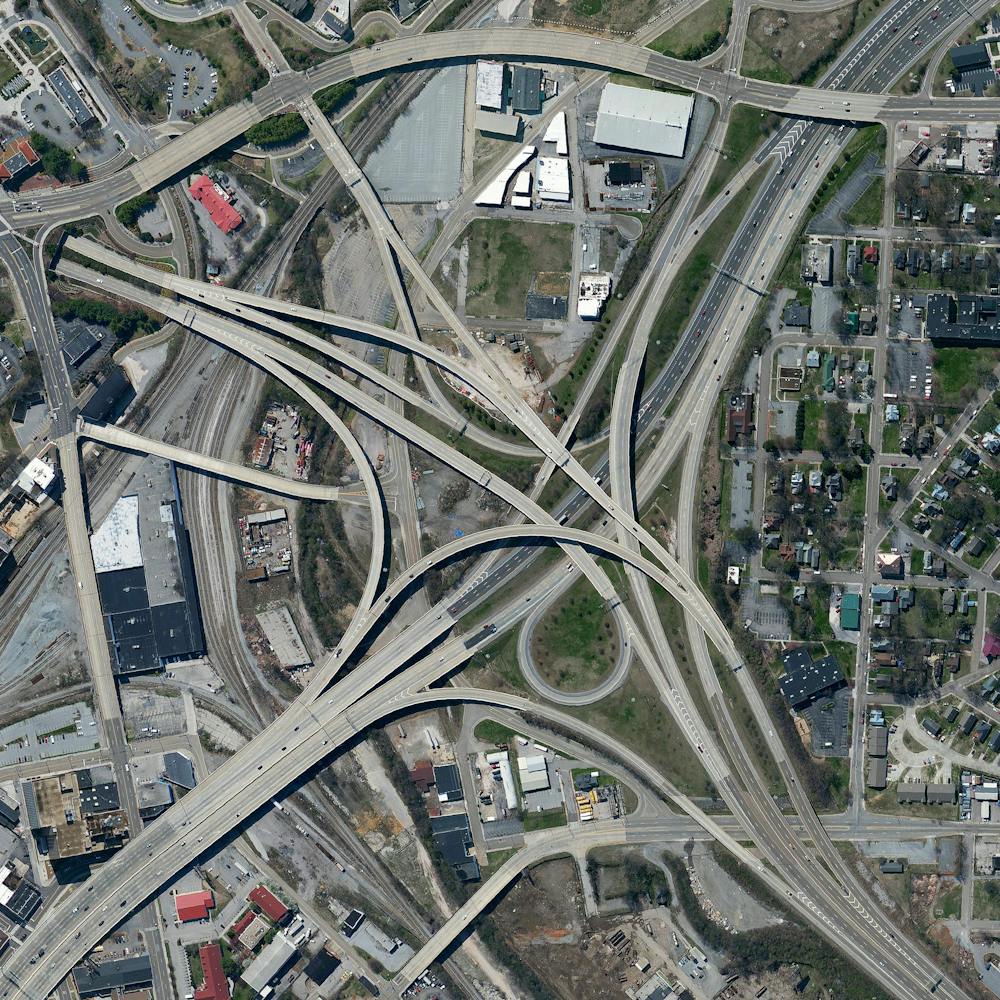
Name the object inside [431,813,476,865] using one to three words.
building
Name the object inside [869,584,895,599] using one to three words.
house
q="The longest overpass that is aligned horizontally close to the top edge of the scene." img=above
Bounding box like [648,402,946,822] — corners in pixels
[349,27,651,77]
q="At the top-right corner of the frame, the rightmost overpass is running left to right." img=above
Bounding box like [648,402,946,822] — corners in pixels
[791,88,885,122]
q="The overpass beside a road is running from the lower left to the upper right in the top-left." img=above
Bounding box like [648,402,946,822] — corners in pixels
[133,96,270,189]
